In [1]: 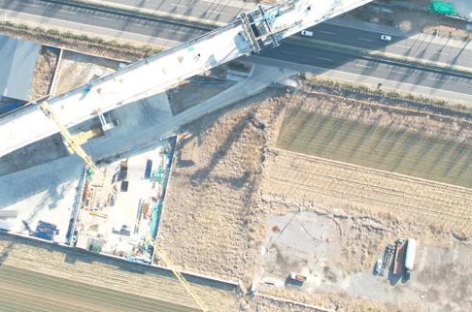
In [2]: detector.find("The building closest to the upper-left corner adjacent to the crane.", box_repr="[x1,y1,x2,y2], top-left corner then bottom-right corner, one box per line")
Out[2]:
[0,36,41,102]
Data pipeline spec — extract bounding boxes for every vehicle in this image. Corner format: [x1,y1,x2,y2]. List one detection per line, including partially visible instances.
[290,273,307,284]
[403,238,420,276]
[383,241,397,276]
[393,240,407,275]
[300,30,313,37]
[379,35,391,41]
